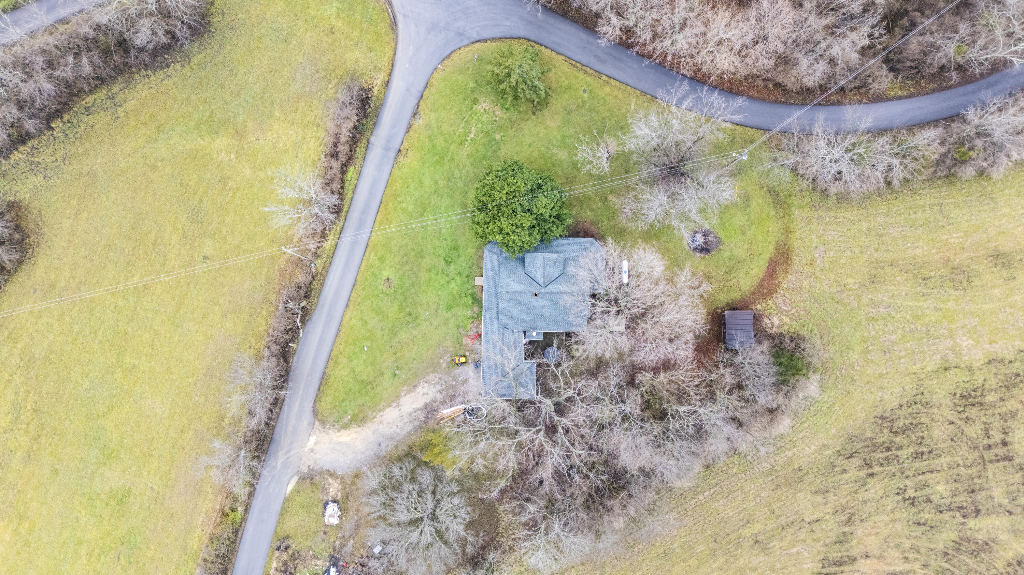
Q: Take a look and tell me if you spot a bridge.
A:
No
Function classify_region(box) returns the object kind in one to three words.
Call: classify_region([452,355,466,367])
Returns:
vehicle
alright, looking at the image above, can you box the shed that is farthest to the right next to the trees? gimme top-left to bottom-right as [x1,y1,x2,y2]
[720,311,754,349]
